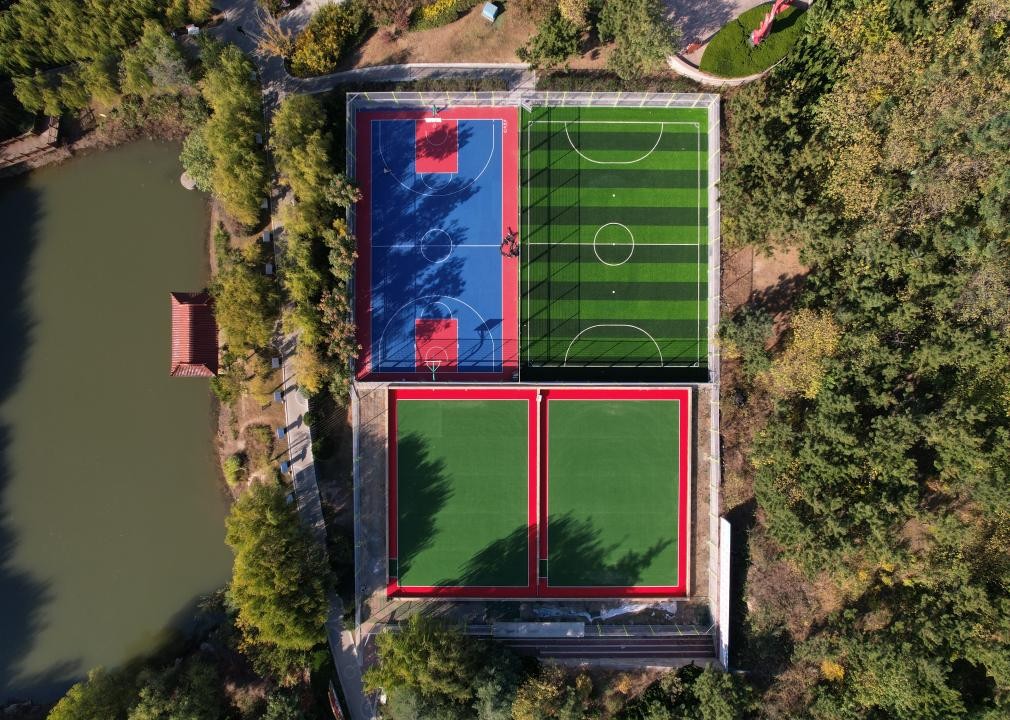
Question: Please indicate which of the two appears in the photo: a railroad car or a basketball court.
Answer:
basketball court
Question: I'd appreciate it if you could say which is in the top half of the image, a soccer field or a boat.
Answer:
soccer field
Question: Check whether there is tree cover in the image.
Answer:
Yes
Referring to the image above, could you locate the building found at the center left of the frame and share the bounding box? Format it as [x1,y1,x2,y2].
[169,291,227,379]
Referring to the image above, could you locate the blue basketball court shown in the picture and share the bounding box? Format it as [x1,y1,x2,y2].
[356,107,519,382]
